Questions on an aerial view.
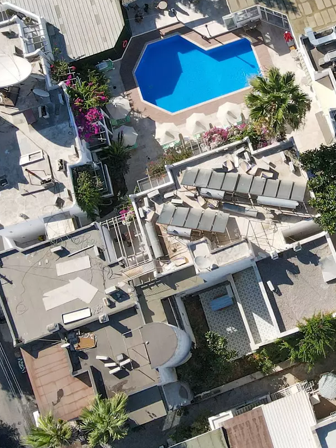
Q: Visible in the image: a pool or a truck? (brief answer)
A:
pool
